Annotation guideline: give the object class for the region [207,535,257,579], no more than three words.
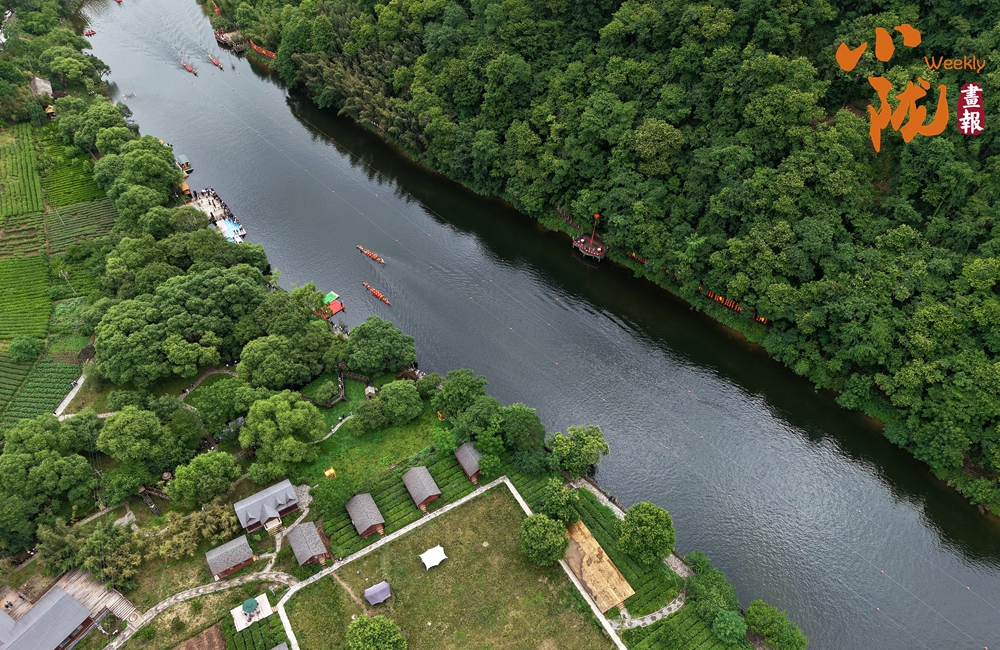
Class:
building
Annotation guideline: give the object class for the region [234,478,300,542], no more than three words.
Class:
house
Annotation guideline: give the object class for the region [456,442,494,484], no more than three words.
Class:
building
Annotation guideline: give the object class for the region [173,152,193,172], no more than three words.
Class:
boat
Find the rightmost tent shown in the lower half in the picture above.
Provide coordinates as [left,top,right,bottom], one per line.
[417,544,454,576]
